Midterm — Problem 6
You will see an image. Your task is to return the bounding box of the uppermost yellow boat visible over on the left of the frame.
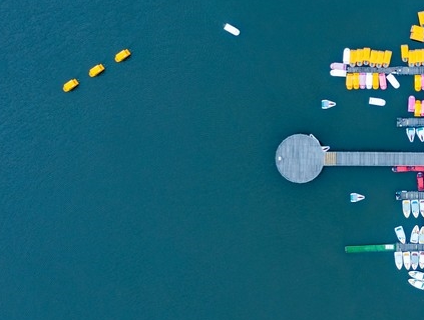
[115,48,132,61]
